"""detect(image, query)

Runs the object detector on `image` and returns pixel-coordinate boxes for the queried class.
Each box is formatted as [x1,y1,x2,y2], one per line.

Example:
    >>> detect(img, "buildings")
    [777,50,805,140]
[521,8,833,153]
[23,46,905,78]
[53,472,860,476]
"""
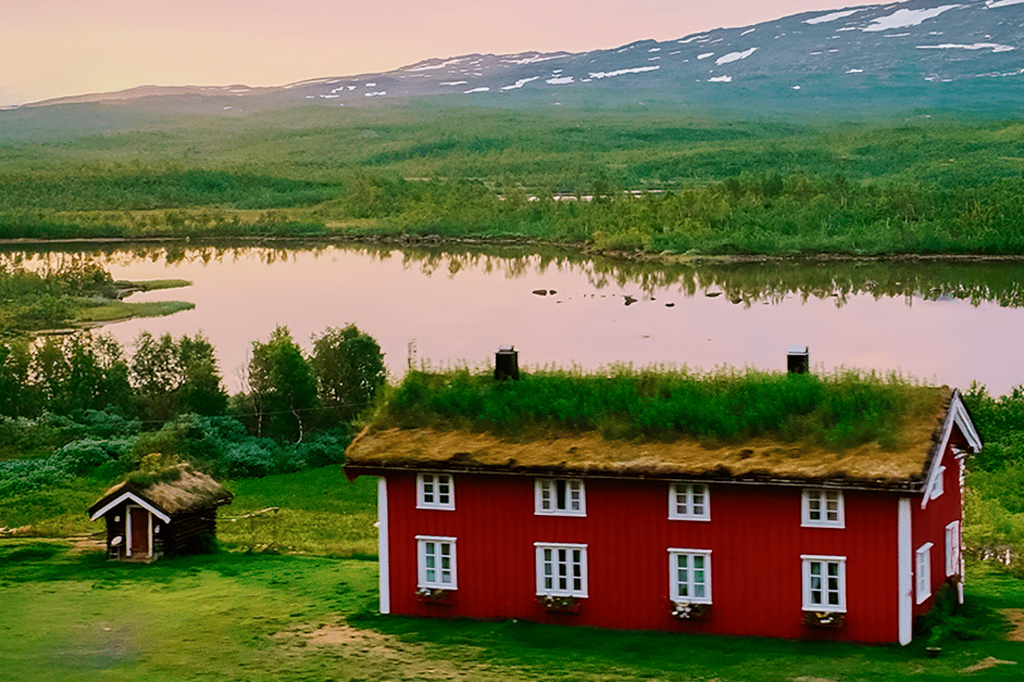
[86,453,237,566]
[339,341,988,643]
